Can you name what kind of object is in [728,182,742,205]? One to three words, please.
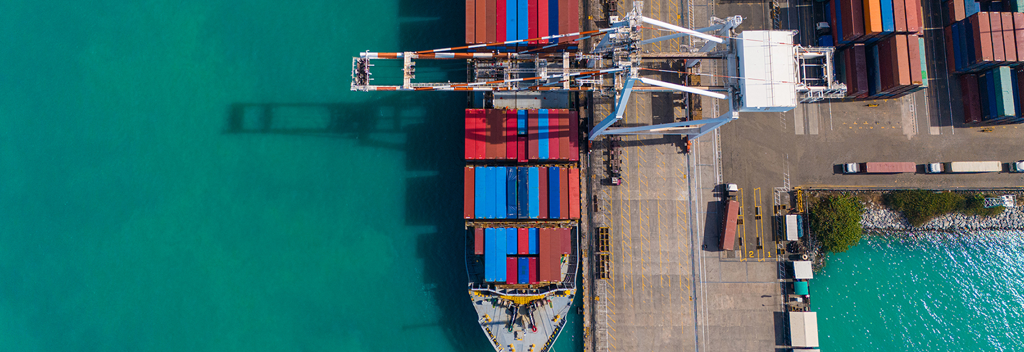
vehicle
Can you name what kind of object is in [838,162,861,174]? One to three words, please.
vehicle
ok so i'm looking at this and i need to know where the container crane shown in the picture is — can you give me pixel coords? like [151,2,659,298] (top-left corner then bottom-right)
[349,0,858,164]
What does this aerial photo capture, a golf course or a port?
port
